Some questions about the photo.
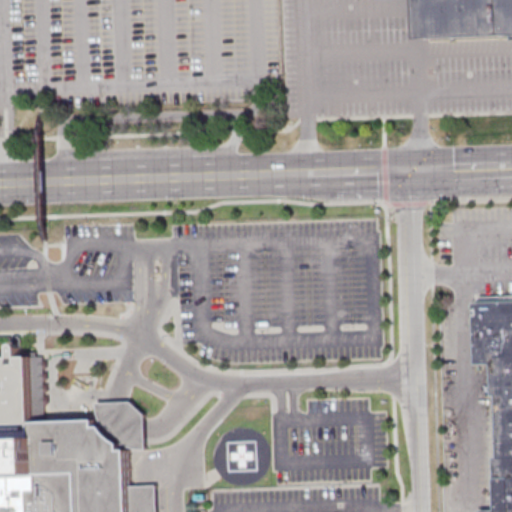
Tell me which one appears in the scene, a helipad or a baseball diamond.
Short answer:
helipad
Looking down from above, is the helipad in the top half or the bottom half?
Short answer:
bottom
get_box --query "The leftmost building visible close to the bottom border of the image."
[0,334,161,512]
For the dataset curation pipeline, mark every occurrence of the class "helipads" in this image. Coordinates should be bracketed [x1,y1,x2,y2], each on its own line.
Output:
[214,428,270,484]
